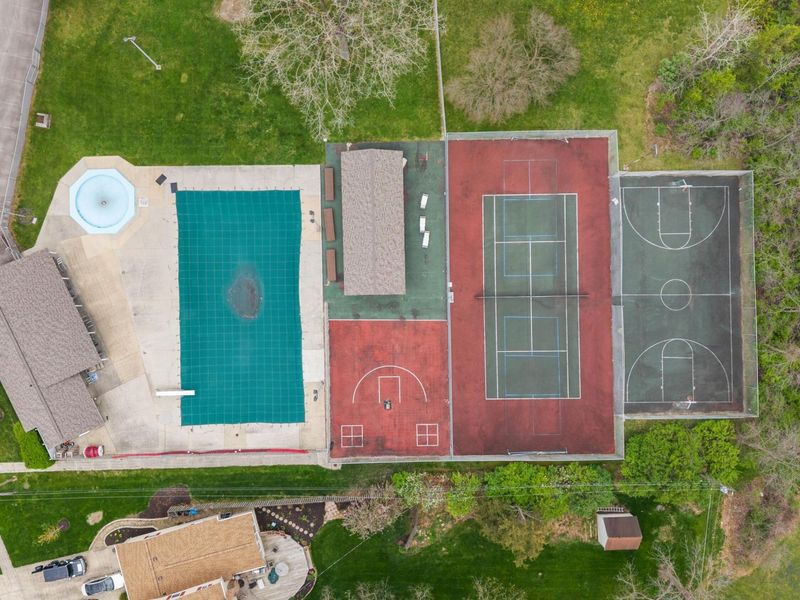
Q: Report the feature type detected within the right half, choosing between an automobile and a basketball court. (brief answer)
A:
basketball court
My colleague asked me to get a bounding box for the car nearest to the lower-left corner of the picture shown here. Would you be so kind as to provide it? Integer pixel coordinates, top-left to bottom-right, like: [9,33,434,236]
[43,553,88,582]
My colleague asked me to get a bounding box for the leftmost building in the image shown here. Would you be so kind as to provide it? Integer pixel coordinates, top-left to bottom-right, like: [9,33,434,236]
[0,249,109,459]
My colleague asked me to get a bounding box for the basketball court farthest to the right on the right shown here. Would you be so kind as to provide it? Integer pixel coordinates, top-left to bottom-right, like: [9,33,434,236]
[620,177,743,412]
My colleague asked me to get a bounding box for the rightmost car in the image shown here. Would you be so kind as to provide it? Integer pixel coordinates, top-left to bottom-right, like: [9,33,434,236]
[81,567,123,594]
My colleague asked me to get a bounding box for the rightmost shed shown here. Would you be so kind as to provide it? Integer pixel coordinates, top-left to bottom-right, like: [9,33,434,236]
[598,514,642,550]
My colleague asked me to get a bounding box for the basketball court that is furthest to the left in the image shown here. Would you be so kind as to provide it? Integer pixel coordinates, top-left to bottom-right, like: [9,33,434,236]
[329,320,452,462]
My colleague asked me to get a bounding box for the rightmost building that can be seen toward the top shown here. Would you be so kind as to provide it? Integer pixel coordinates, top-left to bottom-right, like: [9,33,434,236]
[341,148,405,297]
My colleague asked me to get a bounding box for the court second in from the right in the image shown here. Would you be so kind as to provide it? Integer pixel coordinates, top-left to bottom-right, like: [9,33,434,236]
[449,137,615,458]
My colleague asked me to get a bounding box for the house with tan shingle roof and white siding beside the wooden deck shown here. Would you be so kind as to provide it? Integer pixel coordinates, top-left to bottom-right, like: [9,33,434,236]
[113,505,266,600]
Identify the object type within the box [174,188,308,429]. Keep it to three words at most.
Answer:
swimming pool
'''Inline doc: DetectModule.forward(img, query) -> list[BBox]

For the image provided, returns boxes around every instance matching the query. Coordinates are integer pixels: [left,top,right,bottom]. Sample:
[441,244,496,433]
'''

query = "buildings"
[598,514,642,550]
[0,249,109,459]
[113,505,266,600]
[341,148,405,297]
